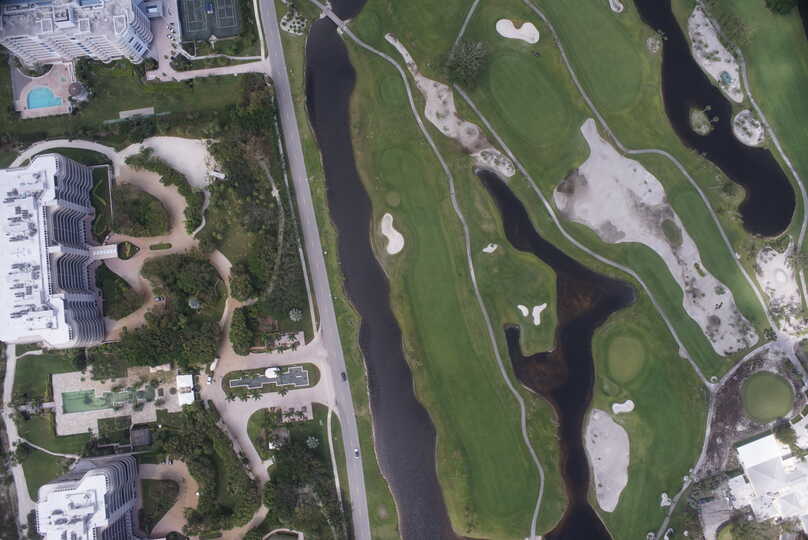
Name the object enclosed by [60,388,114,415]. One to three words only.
swimming pool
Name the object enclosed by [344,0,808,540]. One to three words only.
golf course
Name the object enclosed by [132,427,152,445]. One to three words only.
building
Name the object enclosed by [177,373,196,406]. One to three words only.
building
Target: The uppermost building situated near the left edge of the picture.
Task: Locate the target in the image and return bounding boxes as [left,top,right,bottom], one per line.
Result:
[0,0,154,67]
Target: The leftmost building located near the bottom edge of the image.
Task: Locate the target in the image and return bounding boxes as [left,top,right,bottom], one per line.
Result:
[37,451,137,540]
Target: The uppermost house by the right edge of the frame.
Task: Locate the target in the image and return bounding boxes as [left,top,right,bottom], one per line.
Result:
[733,433,808,516]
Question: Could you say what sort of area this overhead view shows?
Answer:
golf course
